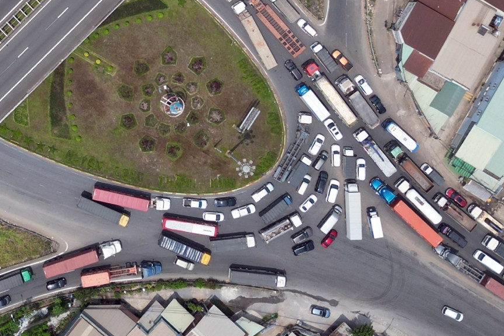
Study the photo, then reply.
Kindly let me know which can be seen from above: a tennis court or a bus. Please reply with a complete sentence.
Looking from above, you can make out a bus.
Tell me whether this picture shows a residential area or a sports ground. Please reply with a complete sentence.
This image shows a residential area.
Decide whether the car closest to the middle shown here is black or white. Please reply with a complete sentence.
The color of the car closest to the middle is white.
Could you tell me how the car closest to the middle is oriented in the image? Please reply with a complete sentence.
The car closest to the middle is laid out at an angle.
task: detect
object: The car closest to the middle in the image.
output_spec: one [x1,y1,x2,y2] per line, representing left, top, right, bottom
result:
[249,181,275,203]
